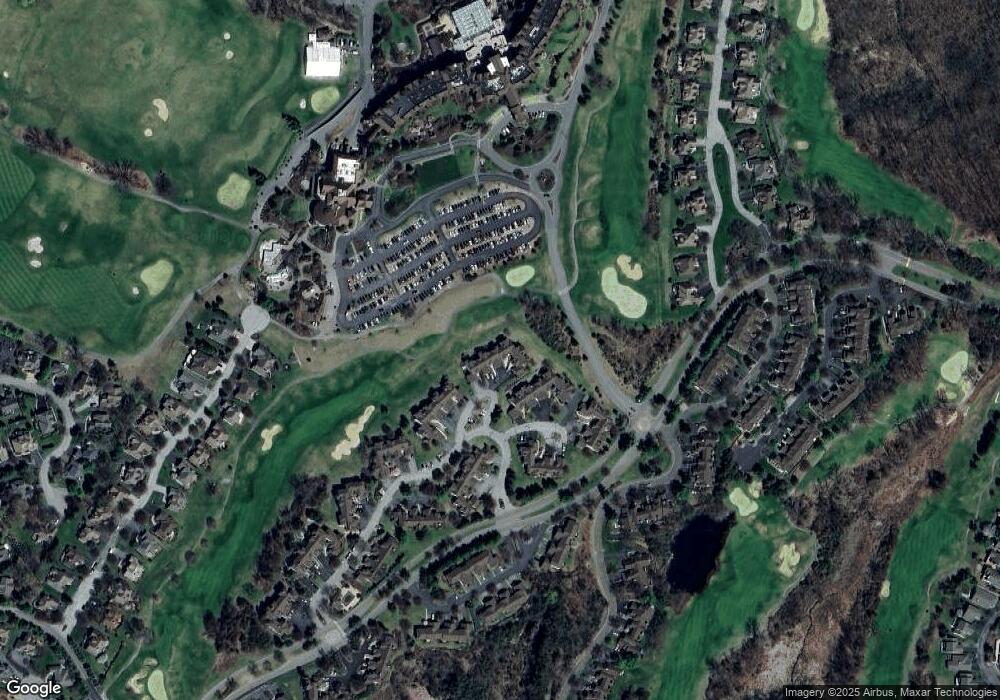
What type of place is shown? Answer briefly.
golf course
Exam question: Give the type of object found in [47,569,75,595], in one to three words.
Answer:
house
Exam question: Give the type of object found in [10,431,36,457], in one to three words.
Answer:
house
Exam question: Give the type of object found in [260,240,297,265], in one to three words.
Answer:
building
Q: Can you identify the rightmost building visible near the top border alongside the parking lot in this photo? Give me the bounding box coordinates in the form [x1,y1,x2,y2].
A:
[367,0,569,134]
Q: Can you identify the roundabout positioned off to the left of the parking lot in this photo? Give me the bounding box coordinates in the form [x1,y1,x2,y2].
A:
[242,305,271,334]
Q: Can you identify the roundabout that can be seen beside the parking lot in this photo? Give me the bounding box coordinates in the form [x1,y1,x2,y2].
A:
[529,160,563,200]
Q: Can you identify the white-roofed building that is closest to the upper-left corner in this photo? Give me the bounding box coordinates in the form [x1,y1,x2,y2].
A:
[306,34,340,73]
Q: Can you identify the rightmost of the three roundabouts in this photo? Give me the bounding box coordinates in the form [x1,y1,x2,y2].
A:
[622,405,673,442]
